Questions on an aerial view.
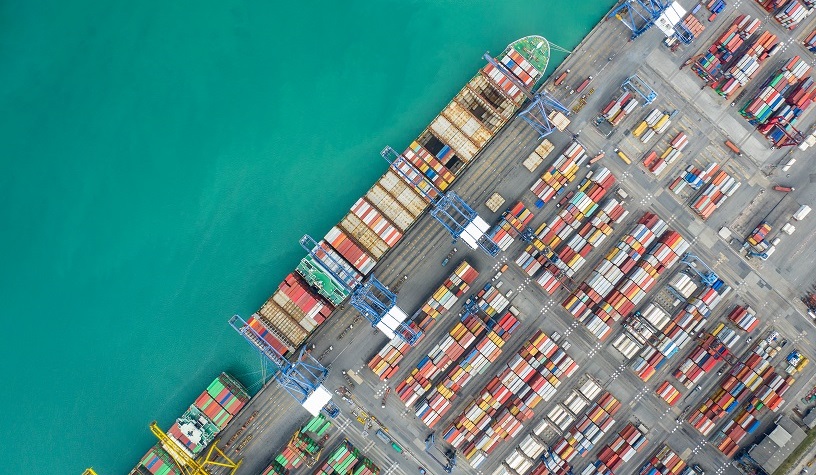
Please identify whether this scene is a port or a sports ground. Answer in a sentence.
It's a port.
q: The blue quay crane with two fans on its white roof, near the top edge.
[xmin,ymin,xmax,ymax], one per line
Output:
[603,0,700,43]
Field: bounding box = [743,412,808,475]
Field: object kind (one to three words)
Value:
building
